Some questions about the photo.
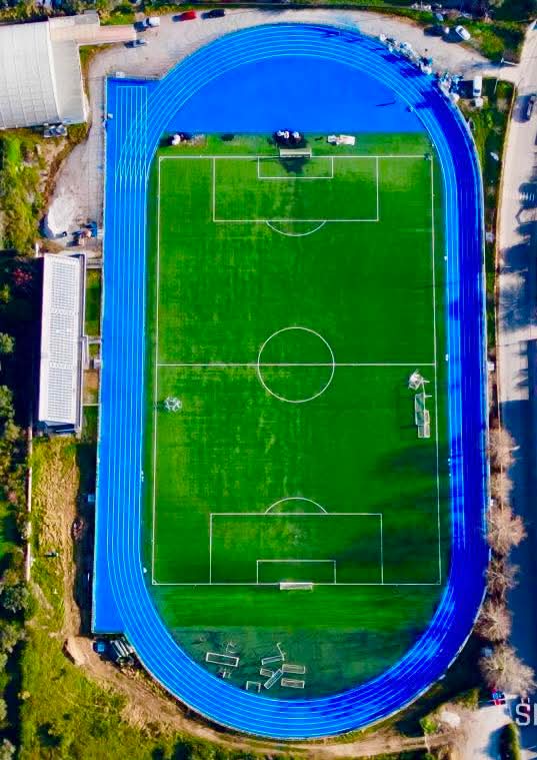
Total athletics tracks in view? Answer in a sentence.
Altogether the scene contains 1 athletics track.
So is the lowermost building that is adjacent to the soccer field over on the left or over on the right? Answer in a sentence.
It is on the left.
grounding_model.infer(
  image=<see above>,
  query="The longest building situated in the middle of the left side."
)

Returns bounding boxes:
[38,251,90,433]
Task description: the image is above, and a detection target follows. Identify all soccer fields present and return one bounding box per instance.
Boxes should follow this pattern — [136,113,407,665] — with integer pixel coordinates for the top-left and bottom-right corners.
[142,133,450,702]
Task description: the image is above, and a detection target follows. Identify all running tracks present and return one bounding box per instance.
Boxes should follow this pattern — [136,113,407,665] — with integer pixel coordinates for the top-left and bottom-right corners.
[93,22,488,742]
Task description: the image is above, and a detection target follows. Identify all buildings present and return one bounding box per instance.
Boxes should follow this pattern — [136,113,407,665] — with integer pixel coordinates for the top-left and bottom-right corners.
[38,251,90,433]
[0,21,90,136]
